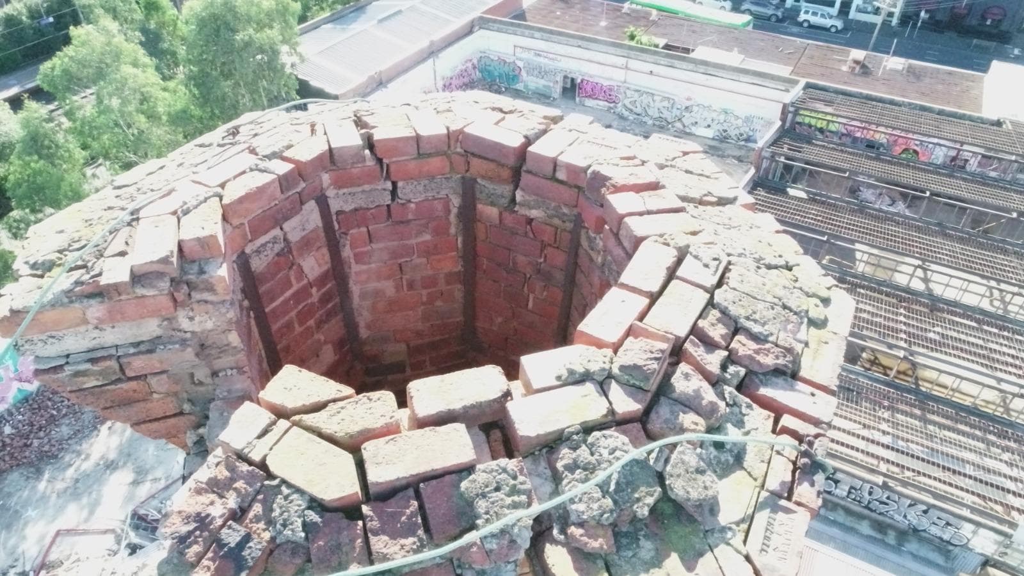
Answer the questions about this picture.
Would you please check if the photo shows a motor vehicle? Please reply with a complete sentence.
Yes, the image includes a motor vehicle.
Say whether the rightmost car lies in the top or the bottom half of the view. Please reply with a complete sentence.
It is in the top half that the rightmost car appears.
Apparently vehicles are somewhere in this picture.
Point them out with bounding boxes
[798,1,850,30]
[620,0,751,26]
[696,0,737,9]
[740,0,787,17]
